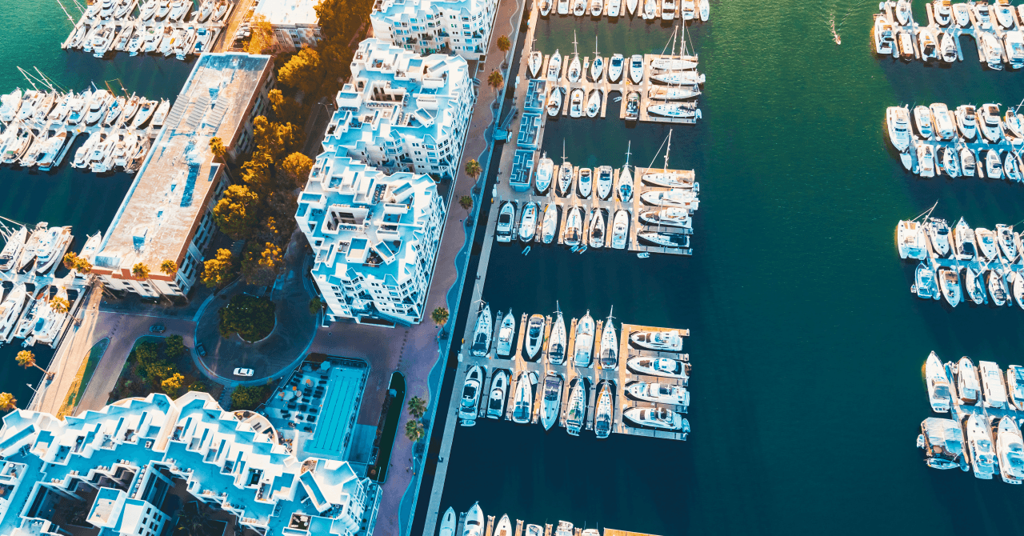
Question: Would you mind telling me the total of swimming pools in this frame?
1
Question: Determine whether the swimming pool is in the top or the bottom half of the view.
bottom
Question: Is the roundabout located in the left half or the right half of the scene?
left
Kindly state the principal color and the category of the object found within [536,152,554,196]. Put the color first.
white boat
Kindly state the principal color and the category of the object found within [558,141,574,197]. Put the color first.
white boat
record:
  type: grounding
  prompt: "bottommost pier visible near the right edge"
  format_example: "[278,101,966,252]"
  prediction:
[942,356,1024,472]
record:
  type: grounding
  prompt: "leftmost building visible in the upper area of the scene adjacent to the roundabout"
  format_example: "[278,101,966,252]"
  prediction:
[81,47,279,296]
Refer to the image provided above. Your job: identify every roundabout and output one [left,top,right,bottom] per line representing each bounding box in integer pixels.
[186,276,321,389]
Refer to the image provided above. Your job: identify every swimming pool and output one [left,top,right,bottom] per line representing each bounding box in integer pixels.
[259,351,370,461]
